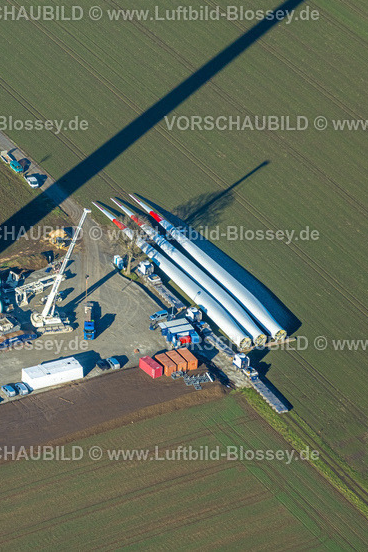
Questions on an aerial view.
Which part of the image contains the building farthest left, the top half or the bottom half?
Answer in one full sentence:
You can find the building farthest left in the bottom half.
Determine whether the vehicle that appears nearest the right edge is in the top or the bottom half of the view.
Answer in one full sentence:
The vehicle that appears nearest the right edge is in the bottom half of the image.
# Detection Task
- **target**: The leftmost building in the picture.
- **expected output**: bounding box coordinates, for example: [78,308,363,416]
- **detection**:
[24,364,51,389]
